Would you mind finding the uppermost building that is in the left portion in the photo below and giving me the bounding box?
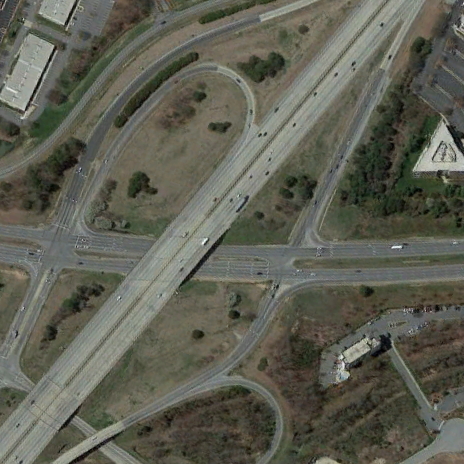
[39,0,80,31]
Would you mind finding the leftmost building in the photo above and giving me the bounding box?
[0,33,55,117]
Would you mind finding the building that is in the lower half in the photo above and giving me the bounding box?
[339,338,380,373]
